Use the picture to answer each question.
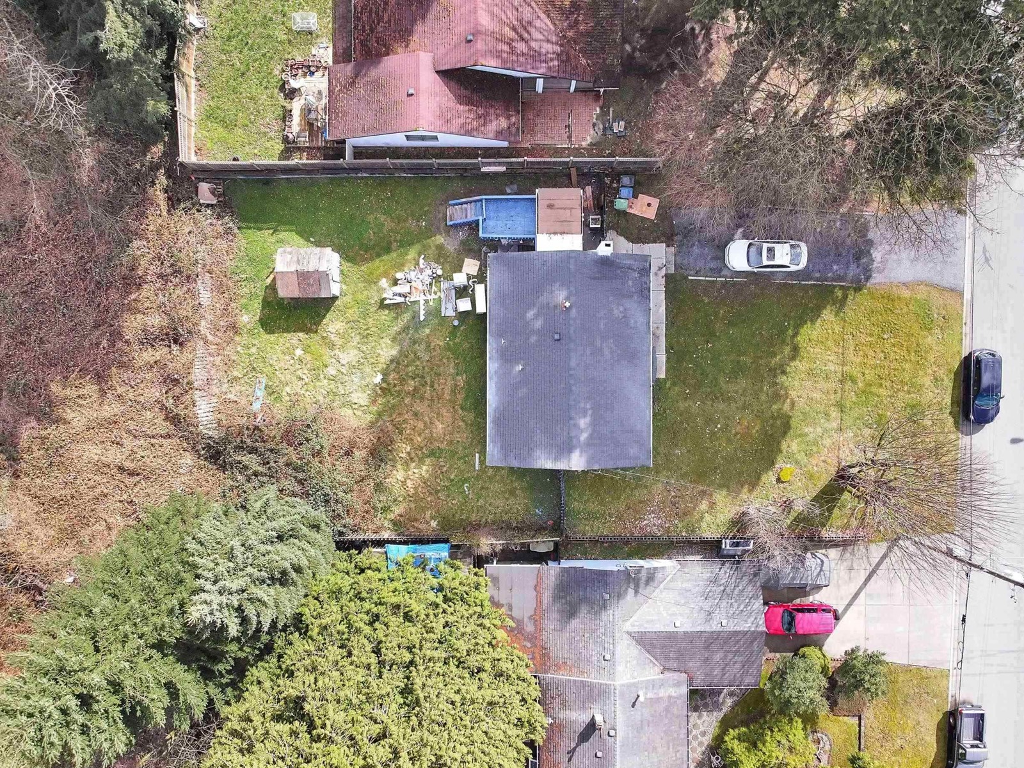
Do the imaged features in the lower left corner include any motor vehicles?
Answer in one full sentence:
No, no motor vehicle can be made out in the lower left corner.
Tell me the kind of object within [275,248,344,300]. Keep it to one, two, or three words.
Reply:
shed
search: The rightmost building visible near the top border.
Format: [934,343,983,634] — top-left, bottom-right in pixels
[326,0,623,160]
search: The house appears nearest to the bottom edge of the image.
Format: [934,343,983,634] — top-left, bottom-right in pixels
[530,550,765,768]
